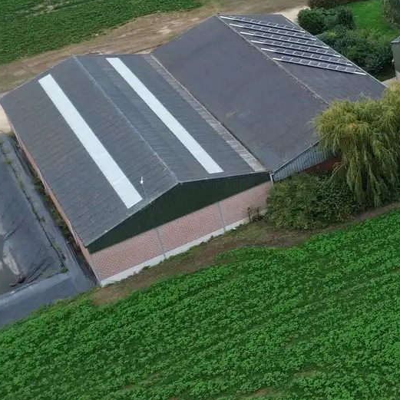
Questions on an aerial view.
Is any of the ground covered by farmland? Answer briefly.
Yes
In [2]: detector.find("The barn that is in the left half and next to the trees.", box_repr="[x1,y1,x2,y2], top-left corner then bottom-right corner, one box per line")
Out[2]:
[1,53,279,288]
